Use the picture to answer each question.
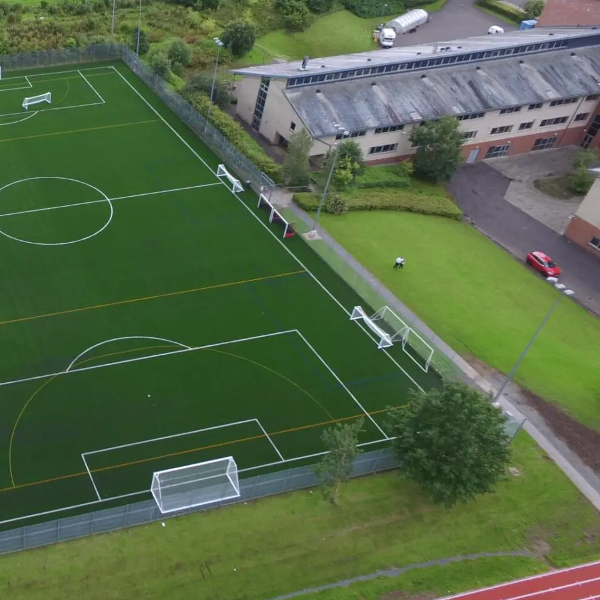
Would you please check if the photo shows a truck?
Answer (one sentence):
Yes, the picture does show a truck.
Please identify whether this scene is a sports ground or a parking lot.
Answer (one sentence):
This image shows a sports ground.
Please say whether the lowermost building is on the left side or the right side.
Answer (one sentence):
The lowermost building appears in the right half of the scene.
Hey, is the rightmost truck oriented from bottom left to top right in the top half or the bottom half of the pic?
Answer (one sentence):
You can find the rightmost truck oriented from bottom left to top right in the top half.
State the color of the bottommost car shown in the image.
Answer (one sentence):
The color of the bottommost car is red.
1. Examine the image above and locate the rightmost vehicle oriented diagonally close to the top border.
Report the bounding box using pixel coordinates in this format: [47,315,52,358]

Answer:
[369,11,426,50]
